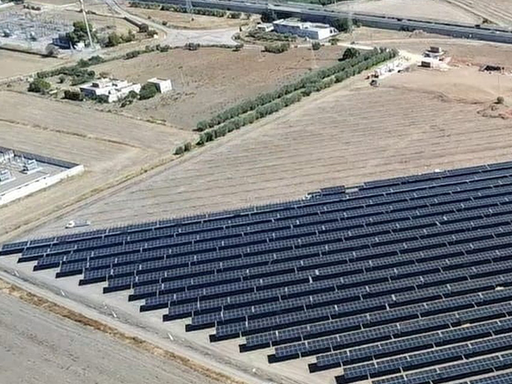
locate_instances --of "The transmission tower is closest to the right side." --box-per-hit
[342,4,355,32]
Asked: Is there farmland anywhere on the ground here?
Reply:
Yes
